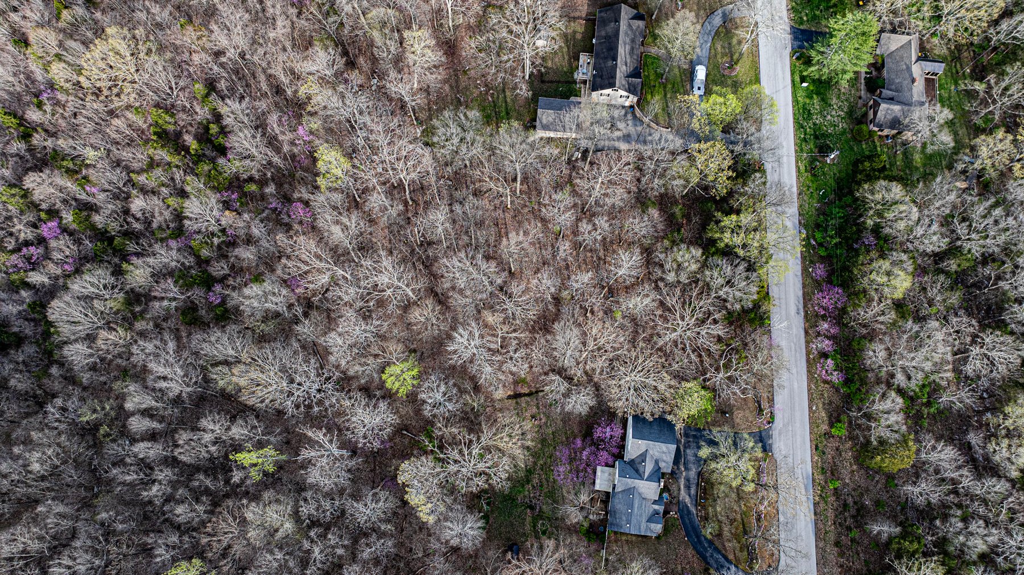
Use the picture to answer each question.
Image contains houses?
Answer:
Yes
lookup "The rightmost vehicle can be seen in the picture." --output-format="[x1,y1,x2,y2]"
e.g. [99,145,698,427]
[694,62,708,94]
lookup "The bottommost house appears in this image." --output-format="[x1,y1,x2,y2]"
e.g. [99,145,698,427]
[603,413,677,537]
